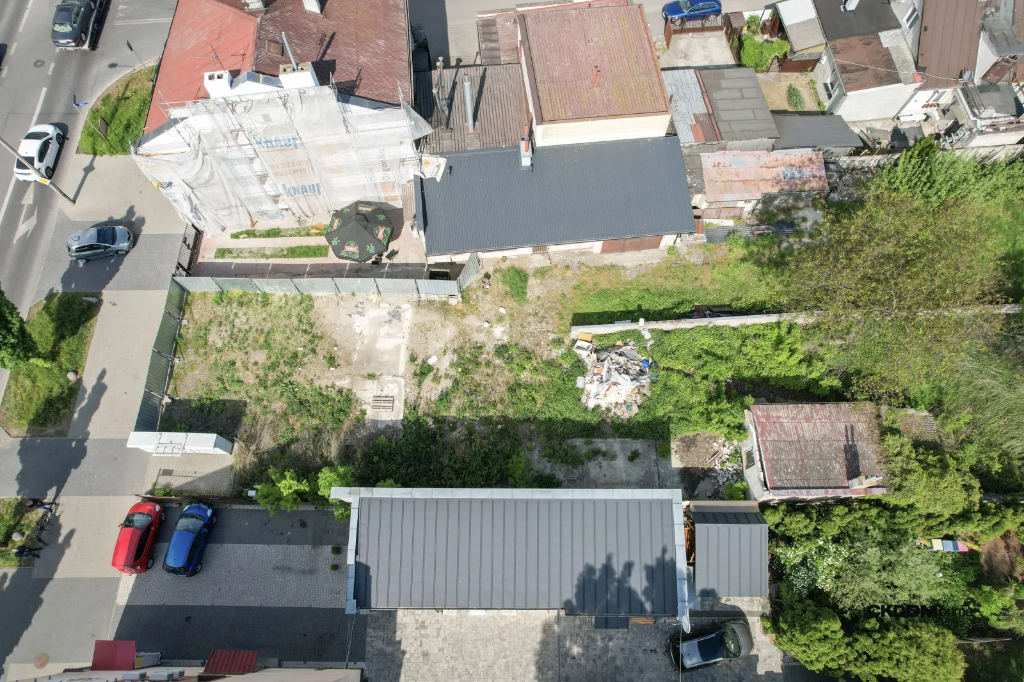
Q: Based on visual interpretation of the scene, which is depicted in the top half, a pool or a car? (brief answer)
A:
car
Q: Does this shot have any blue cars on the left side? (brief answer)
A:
Yes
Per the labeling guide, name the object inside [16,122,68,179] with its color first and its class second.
white car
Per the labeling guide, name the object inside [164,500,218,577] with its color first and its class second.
blue car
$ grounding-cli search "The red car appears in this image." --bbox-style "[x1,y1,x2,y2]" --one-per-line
[114,499,168,572]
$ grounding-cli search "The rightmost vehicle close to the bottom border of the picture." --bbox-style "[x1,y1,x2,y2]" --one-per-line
[667,619,754,675]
